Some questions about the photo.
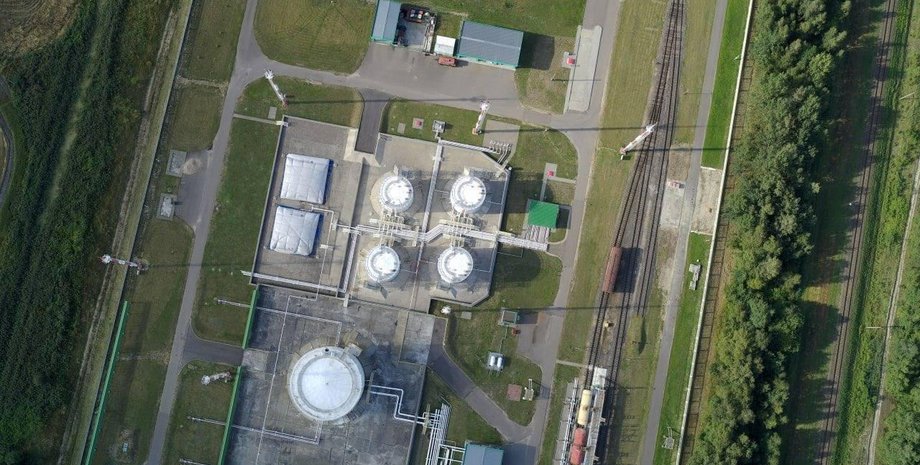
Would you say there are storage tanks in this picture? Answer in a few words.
Yes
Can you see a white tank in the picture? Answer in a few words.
Yes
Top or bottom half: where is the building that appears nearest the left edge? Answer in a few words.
top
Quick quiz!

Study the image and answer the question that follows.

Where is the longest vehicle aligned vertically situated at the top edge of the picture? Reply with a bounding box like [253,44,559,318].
[423,16,437,51]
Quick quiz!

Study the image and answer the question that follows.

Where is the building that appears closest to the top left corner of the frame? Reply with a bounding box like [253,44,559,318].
[372,0,402,46]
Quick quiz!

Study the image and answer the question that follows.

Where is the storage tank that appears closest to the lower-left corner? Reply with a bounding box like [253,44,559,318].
[287,321,373,429]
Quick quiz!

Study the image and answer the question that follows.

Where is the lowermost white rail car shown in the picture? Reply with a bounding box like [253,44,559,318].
[578,388,593,426]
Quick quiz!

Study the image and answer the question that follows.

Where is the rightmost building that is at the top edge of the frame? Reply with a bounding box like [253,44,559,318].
[459,22,524,73]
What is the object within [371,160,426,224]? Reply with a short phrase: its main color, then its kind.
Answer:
white storage tank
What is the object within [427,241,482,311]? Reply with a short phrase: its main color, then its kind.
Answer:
white storage tank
